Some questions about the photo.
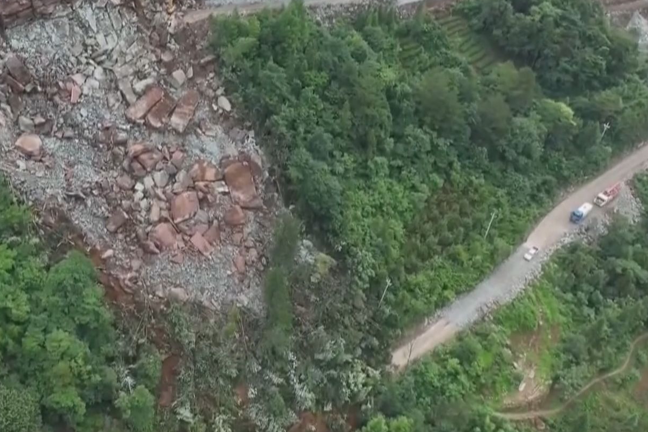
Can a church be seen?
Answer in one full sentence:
No, the picture doesn't show any church.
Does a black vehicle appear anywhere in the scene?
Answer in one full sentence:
No, there's no black vehicle here.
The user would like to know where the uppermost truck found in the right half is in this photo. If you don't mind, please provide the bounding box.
[595,175,626,203]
